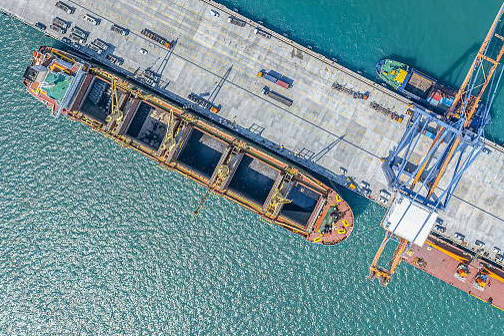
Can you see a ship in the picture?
Yes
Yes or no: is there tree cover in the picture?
No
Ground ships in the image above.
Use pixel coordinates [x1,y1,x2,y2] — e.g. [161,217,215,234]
[376,59,495,130]
[16,47,355,245]
[402,231,504,310]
